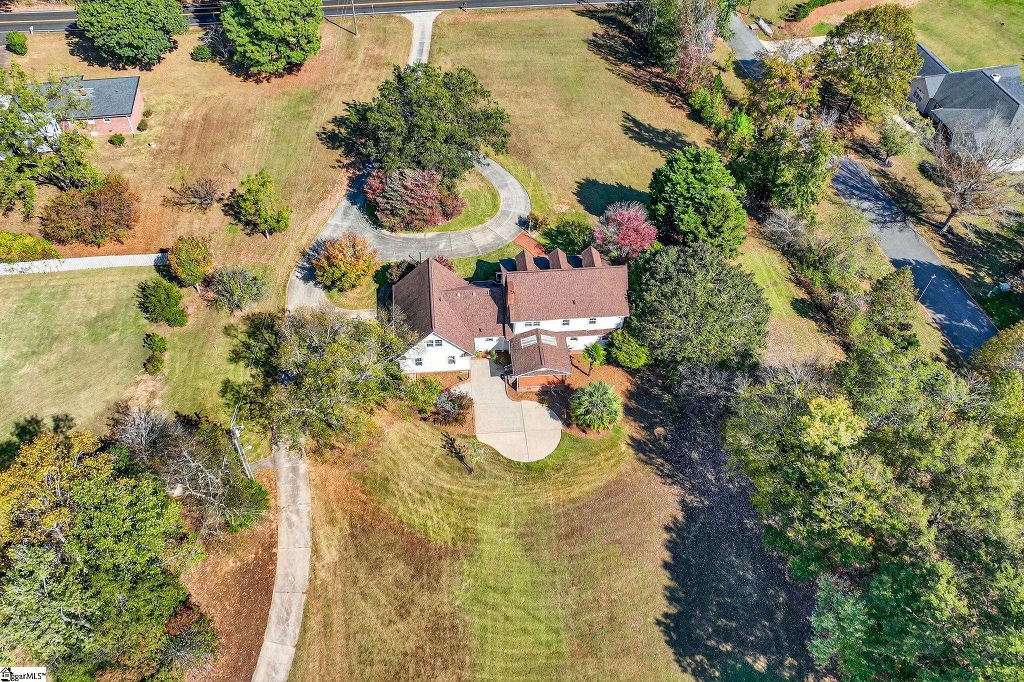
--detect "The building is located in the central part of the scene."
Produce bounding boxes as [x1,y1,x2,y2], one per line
[385,245,630,393]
